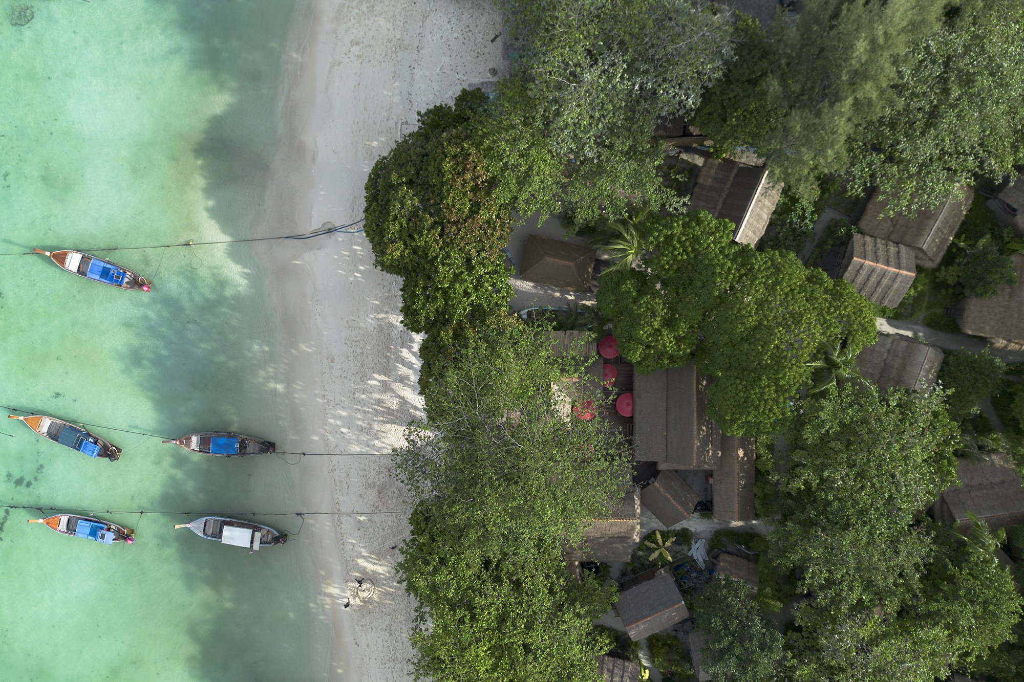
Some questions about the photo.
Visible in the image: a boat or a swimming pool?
boat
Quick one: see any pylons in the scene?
No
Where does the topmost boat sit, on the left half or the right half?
left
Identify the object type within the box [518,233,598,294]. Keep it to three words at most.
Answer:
shed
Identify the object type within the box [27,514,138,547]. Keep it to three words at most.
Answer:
boat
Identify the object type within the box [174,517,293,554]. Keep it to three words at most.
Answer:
boat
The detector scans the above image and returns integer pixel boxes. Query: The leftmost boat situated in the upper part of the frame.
[33,248,156,297]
